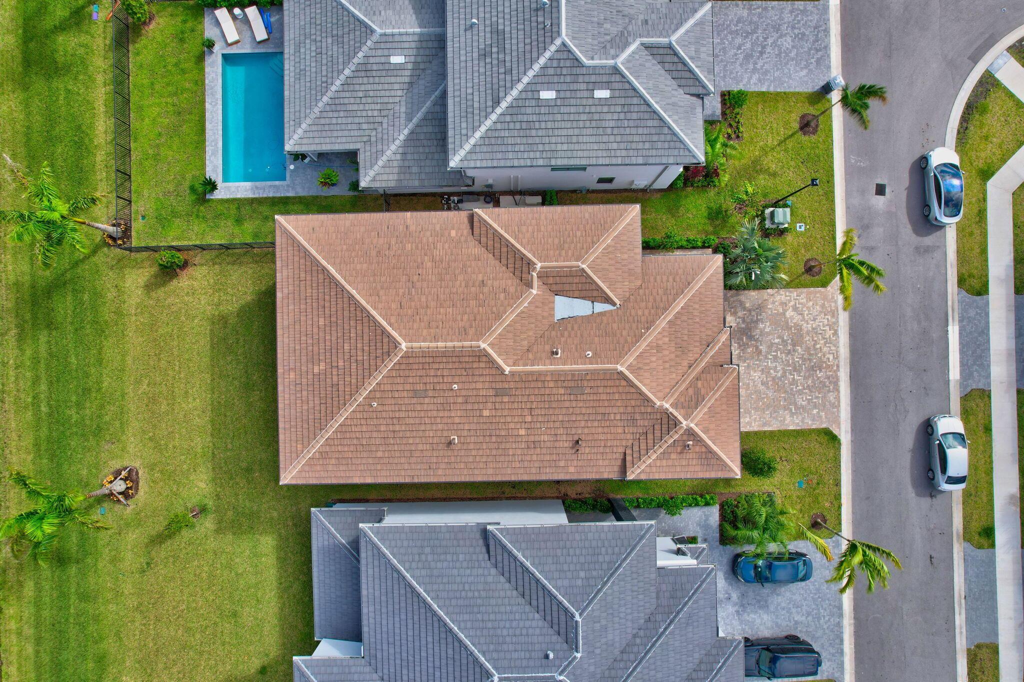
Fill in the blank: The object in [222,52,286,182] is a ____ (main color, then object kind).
blue swimming pool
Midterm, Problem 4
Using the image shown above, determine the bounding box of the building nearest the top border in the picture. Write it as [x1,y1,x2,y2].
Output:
[280,0,717,195]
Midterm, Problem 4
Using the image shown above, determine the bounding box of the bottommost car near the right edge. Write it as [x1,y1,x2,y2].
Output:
[930,414,973,492]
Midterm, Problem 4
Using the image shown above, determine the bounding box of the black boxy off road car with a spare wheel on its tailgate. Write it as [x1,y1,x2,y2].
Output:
[745,637,819,679]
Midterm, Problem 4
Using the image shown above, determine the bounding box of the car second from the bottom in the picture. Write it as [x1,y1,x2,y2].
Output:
[731,550,814,588]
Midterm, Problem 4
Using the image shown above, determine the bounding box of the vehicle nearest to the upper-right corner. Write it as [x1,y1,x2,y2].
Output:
[921,148,965,225]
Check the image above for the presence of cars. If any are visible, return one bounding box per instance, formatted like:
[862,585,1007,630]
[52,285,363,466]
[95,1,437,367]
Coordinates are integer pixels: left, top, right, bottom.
[731,550,814,588]
[930,414,973,492]
[745,637,819,679]
[921,148,965,225]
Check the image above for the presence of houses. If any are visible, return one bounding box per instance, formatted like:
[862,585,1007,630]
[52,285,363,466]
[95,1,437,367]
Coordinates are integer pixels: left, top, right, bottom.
[280,0,717,195]
[291,501,746,682]
[274,202,743,487]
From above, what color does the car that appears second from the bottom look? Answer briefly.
blue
